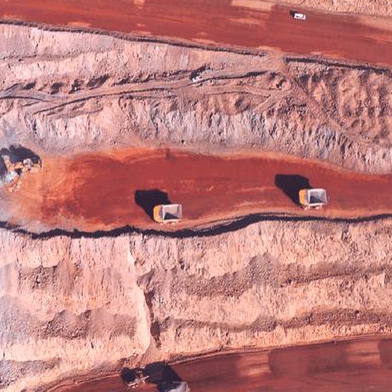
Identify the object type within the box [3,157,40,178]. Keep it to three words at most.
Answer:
work vehicle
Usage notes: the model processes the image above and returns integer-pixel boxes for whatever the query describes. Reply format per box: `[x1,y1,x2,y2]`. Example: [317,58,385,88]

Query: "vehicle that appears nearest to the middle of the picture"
[151,205,180,224]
